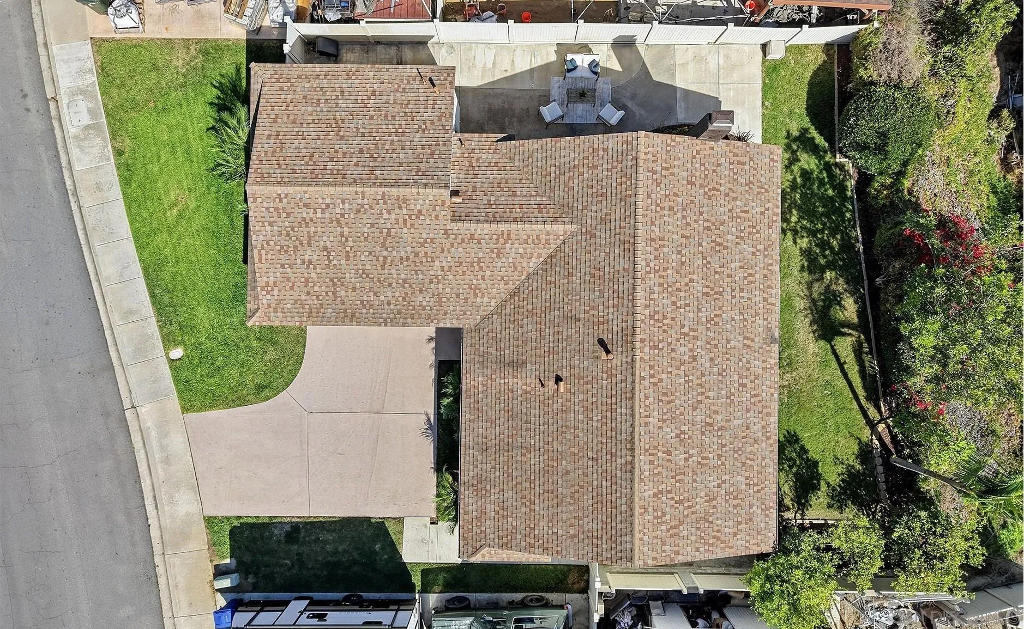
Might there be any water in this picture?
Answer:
No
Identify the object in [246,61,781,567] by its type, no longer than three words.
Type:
house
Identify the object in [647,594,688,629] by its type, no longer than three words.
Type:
shed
